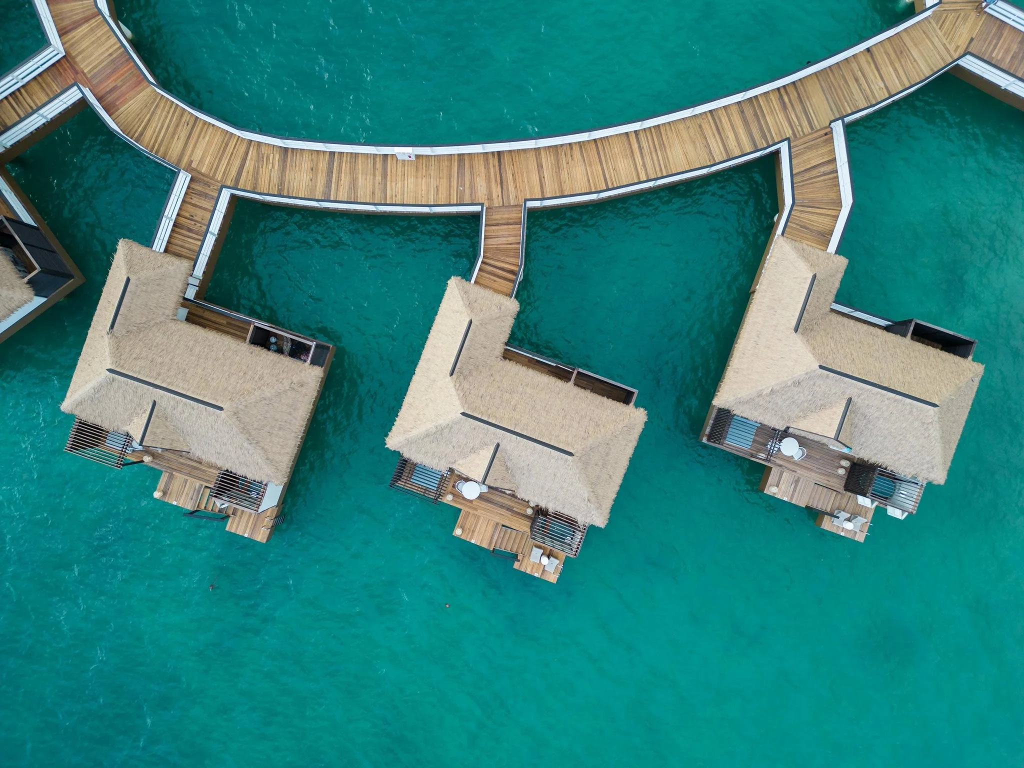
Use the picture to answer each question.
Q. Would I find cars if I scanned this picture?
No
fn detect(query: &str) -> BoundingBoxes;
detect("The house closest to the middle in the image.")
[383,274,650,583]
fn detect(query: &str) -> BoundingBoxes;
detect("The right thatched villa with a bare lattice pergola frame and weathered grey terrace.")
[696,231,981,541]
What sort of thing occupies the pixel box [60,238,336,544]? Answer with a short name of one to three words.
house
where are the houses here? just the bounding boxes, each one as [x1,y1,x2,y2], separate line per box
[696,231,981,541]
[0,122,85,343]
[60,238,336,544]
[383,274,650,583]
